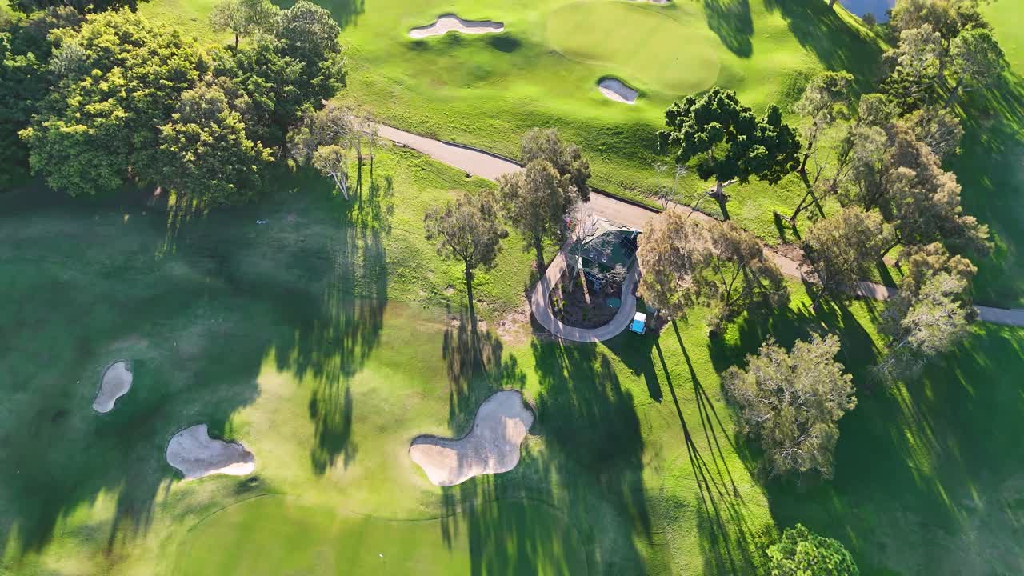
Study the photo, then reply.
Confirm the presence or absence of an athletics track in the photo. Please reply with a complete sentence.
No, the photo shows no athletics track.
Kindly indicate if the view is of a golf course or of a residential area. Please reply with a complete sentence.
The picture captures a golf course.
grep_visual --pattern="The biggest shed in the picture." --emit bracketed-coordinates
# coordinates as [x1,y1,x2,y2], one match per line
[563,216,642,282]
